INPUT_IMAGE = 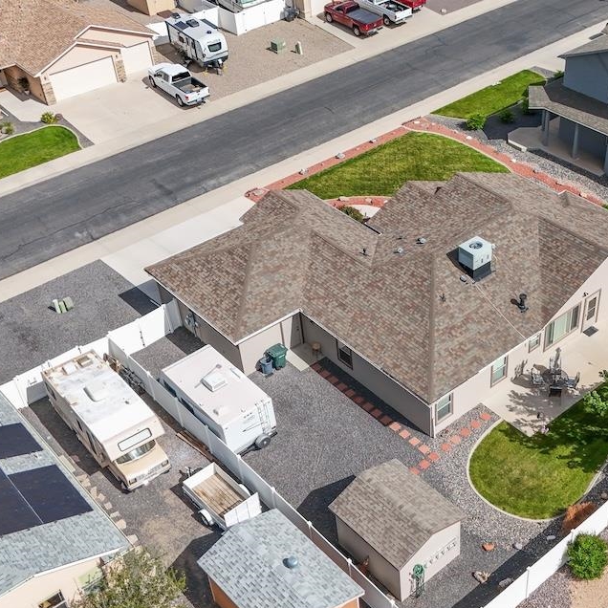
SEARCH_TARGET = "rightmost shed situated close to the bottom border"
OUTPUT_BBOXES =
[330,461,463,601]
